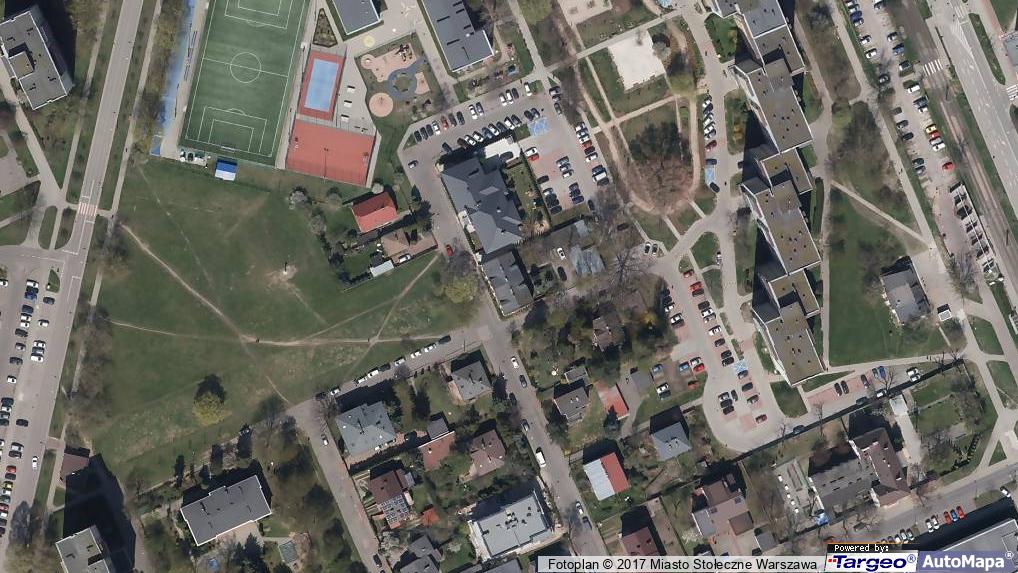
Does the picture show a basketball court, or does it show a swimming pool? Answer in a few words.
basketball court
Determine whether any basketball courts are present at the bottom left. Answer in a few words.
No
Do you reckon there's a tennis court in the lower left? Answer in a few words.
No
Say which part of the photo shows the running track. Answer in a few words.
top left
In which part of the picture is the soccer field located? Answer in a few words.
top left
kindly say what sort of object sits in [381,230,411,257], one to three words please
house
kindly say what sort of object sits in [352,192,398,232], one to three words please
house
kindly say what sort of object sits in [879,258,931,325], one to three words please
building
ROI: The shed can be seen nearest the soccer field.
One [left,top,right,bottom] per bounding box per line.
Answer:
[215,161,238,181]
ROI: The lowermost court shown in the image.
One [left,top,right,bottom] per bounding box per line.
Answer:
[286,119,375,186]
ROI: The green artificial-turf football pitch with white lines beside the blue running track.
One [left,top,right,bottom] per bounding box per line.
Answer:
[177,0,310,167]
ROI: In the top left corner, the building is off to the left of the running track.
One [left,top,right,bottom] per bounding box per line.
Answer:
[0,11,79,108]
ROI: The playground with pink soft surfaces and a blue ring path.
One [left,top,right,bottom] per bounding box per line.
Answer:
[361,42,429,117]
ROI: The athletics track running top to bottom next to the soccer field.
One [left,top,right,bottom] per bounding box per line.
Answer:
[151,0,195,157]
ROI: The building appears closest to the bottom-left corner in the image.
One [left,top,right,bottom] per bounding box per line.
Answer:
[57,516,123,573]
